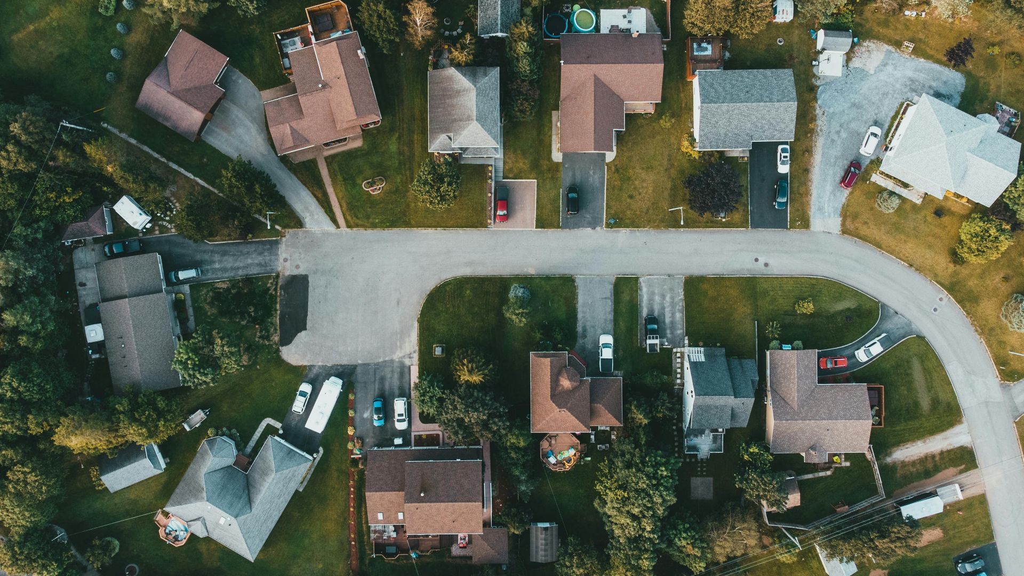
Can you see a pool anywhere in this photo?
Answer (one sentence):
Yes, this view includes a pool.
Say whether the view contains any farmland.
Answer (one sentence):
No, the scene doesn't show any farmland.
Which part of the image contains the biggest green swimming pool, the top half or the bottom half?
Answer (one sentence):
The top half of the photo is where the biggest green swimming pool is.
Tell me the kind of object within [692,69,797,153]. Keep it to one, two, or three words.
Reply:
house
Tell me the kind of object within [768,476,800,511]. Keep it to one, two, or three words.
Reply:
shed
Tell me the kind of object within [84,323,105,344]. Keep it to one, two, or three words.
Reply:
gazebo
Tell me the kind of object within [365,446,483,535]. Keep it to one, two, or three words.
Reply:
house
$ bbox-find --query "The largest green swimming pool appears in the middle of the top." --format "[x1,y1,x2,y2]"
[572,6,598,32]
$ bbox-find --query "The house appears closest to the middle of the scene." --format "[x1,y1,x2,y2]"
[530,349,623,433]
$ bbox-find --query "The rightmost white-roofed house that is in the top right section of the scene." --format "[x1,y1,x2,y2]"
[875,93,1022,208]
